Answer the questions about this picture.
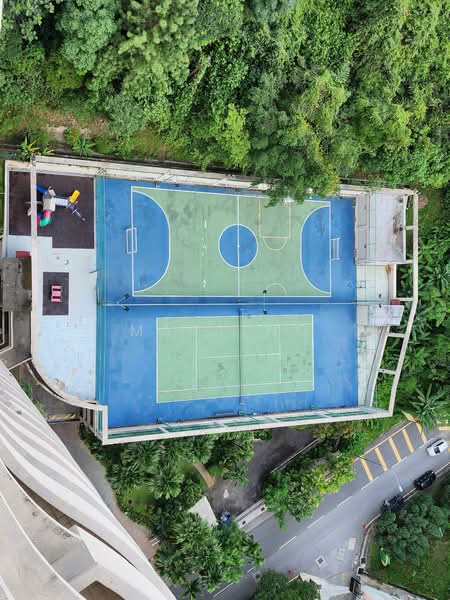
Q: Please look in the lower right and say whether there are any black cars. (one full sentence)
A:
Yes, a black car appears in the lower right.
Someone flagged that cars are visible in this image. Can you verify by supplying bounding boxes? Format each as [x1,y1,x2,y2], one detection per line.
[412,470,435,490]
[381,492,405,513]
[425,437,448,456]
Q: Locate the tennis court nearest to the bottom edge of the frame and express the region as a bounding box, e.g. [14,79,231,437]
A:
[101,302,359,428]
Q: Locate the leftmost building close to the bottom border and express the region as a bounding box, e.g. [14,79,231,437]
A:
[0,360,176,600]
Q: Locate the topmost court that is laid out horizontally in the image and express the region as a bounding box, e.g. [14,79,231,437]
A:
[101,179,358,303]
